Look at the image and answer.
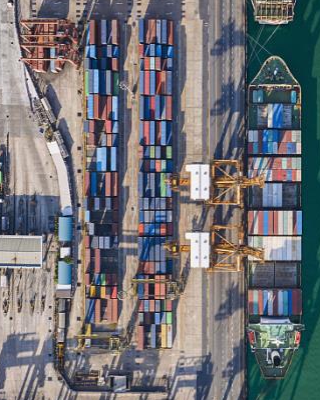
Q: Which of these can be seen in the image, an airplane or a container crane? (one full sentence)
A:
It is a container crane that can be seen here.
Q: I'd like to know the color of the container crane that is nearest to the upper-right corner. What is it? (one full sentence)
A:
The container crane that is nearest to the upper-right corner is white.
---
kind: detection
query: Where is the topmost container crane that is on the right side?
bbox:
[163,159,266,209]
